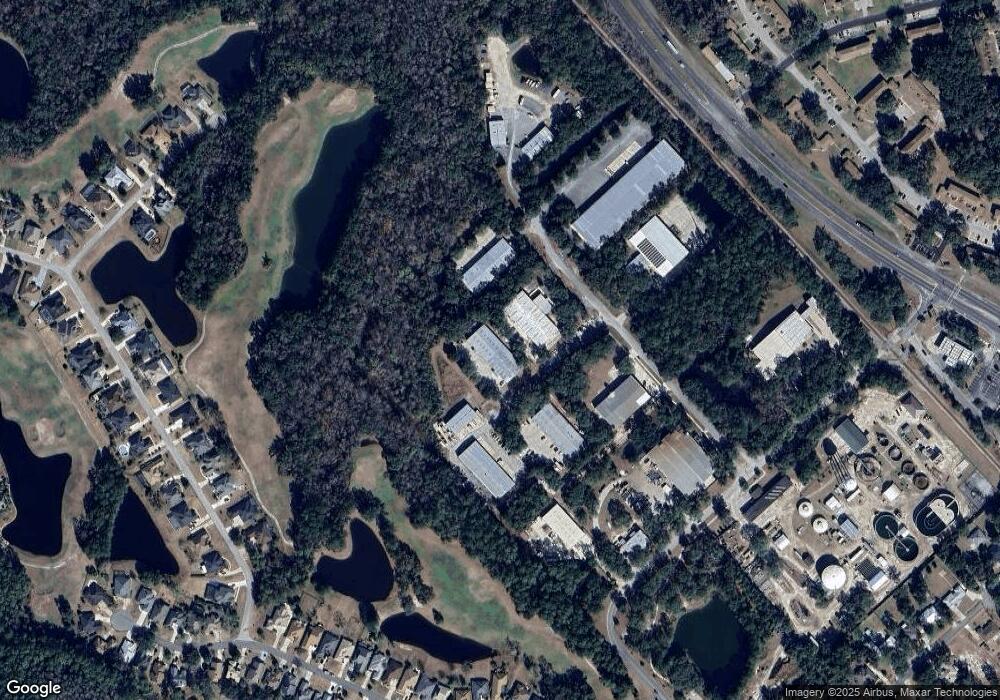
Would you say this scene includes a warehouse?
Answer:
Yes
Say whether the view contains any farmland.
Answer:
No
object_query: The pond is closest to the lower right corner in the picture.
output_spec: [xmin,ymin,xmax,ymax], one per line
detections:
[664,595,753,696]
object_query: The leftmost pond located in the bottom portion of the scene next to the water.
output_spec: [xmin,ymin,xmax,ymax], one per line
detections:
[0,401,74,558]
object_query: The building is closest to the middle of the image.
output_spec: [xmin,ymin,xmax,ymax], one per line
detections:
[467,326,520,383]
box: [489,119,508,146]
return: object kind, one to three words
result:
building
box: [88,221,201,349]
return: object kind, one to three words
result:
pond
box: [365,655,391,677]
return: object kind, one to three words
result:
house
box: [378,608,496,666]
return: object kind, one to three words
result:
pond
